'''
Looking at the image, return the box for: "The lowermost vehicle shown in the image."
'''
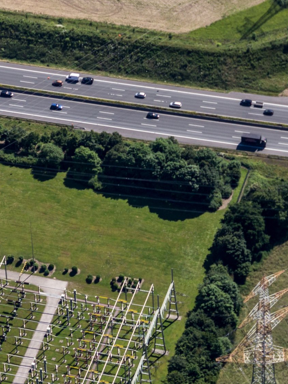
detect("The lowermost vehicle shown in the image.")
[242,133,266,147]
